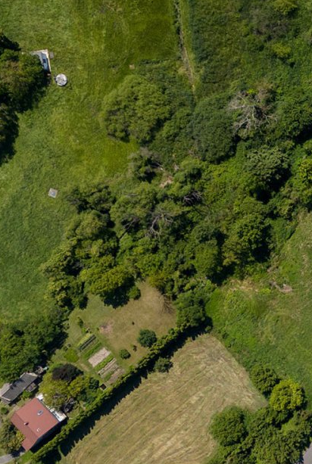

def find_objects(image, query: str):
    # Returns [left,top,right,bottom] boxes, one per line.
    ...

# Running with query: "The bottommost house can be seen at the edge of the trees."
[8,393,72,447]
